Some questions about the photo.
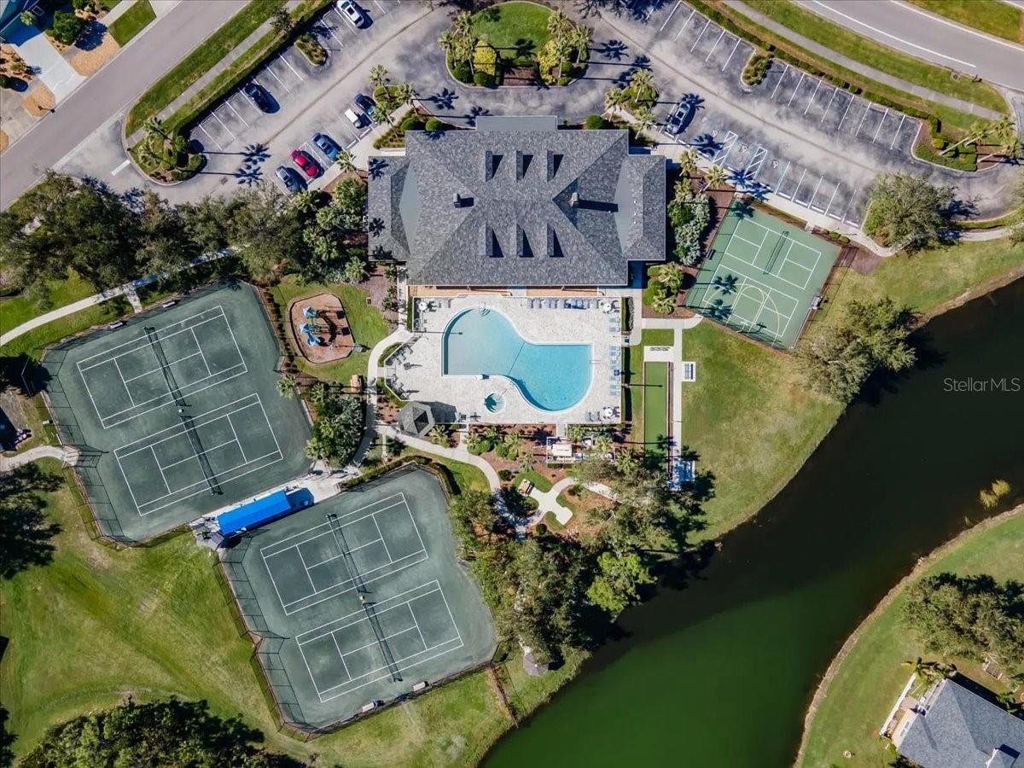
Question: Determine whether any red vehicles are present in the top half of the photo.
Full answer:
Yes, I can see a red vehicle in the top half of the photo.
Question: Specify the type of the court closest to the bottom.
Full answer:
What you see as the court closest to the bottom is a tennis court.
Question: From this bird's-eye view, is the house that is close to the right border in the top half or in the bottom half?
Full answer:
Seen from above, the house that is close to the right border lies in the bottom half of the view.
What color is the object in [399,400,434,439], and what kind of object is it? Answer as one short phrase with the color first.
gray gazebo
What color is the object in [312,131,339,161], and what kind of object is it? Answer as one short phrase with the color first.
blue car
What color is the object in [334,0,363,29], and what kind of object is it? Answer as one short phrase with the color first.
white car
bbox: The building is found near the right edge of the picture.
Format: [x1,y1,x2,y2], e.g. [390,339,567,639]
[886,678,1024,768]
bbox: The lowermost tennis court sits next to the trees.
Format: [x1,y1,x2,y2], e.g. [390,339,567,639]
[252,556,497,730]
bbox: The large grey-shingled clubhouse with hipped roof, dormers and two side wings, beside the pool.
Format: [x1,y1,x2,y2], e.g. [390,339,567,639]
[368,116,666,287]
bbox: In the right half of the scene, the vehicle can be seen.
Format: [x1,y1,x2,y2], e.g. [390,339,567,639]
[669,101,692,134]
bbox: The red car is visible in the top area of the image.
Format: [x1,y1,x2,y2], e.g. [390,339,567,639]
[290,148,318,178]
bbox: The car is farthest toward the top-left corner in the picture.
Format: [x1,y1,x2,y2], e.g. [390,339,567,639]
[242,81,271,112]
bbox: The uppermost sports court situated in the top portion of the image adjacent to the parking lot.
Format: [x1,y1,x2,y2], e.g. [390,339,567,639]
[686,200,841,348]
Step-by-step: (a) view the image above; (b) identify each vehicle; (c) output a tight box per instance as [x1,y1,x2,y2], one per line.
[669,101,692,134]
[312,131,339,161]
[275,163,304,193]
[242,81,271,112]
[343,107,360,126]
[350,90,378,120]
[290,148,318,178]
[334,0,363,29]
